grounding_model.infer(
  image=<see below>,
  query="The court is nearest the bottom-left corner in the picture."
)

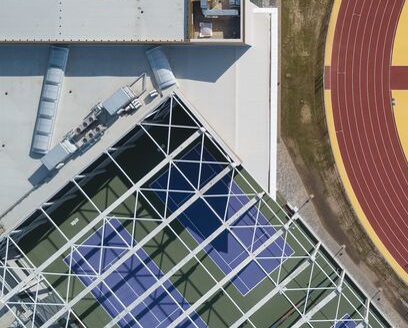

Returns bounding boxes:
[63,217,208,328]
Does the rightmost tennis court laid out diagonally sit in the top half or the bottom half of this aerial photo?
bottom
